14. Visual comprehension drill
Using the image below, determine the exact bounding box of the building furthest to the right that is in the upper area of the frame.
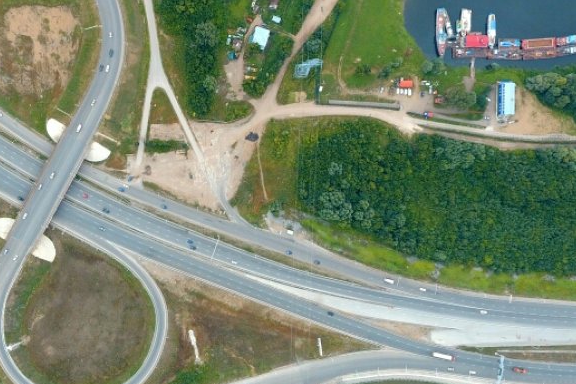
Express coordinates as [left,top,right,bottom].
[493,81,516,120]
